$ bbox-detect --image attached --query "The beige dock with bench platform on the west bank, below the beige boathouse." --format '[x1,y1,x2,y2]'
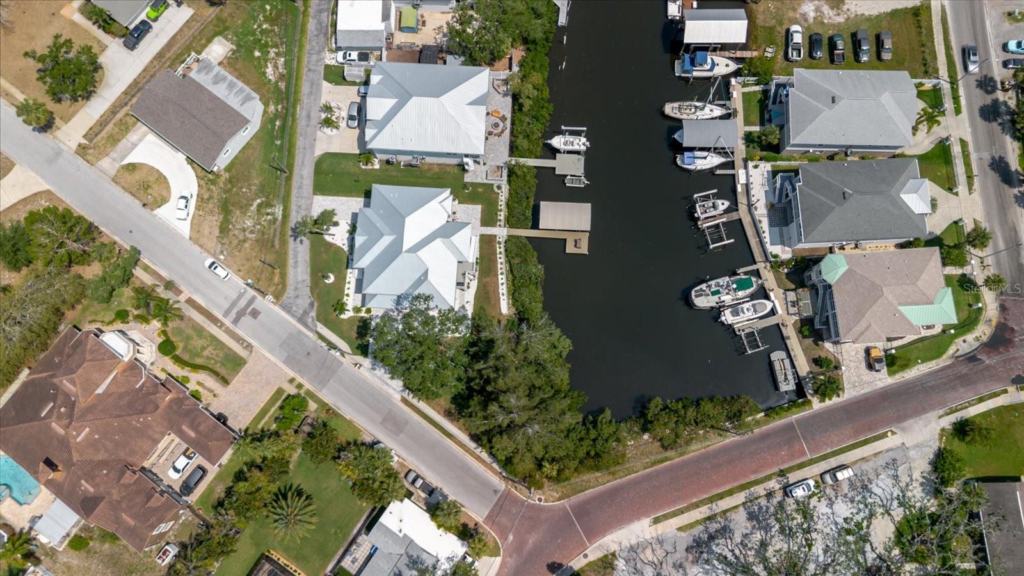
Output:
[481,227,590,257]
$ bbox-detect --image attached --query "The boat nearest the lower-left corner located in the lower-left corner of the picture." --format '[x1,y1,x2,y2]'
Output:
[153,543,180,566]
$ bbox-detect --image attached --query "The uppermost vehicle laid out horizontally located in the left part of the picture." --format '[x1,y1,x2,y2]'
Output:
[337,50,371,65]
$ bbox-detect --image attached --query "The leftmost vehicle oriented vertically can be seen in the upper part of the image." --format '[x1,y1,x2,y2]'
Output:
[177,192,192,220]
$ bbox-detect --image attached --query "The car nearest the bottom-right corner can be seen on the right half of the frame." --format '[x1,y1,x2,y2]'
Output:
[820,465,854,483]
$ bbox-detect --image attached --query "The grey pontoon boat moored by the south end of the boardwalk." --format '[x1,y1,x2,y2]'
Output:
[768,351,795,396]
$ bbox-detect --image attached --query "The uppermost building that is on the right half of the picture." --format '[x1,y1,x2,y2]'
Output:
[677,9,748,57]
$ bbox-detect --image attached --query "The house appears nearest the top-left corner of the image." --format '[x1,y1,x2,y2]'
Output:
[93,0,153,29]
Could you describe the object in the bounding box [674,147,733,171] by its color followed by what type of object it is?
white boat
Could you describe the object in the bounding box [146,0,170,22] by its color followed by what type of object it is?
green car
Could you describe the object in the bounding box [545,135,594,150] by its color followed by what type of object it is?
white boat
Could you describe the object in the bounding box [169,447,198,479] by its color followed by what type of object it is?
white truck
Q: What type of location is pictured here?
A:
residential area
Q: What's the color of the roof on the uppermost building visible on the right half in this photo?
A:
white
